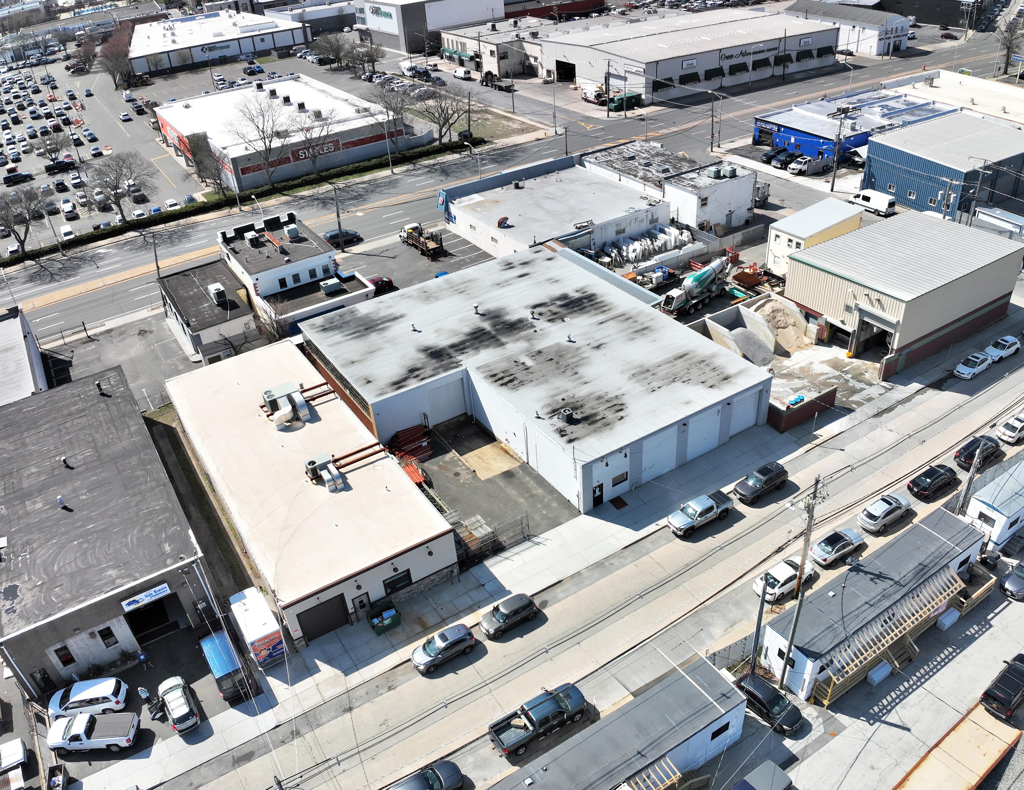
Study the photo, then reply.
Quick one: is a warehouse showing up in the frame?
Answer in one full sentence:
Yes, a warehouse is visible in the scene.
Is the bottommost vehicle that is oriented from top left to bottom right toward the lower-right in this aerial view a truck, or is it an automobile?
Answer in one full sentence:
Looking closely, the bottommost vehicle that is oriented from top left to bottom right toward the lower-right is an automobile.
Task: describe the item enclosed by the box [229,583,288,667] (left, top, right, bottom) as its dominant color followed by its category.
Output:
white trailer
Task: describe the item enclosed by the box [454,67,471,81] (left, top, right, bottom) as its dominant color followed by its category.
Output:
white vehicle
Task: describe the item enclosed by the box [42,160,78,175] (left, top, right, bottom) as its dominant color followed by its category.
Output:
black vehicle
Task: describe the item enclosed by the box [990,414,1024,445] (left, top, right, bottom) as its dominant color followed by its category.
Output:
white car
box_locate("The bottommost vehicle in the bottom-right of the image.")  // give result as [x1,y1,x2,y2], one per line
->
[738,764,798,790]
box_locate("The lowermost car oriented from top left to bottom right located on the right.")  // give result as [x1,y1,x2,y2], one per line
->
[737,671,819,742]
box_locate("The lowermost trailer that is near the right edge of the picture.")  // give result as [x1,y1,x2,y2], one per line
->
[870,699,1019,790]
